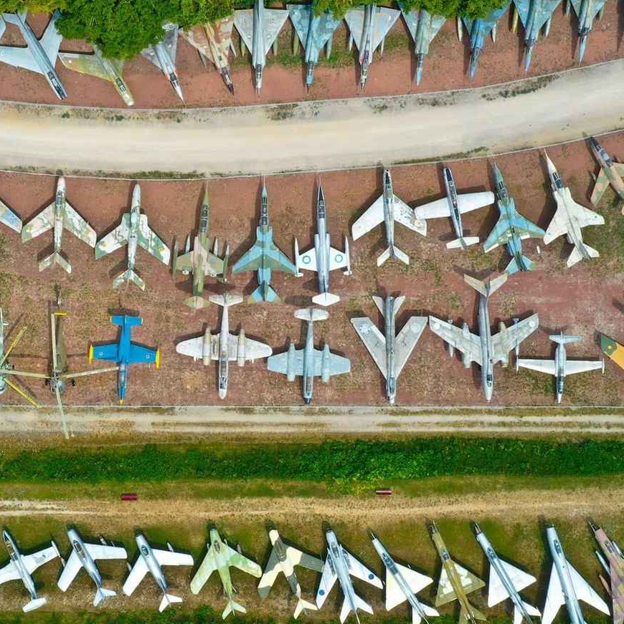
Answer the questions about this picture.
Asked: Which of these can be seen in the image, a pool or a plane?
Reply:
plane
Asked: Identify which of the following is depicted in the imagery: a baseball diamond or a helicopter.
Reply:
helicopter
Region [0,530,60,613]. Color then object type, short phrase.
white airplane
